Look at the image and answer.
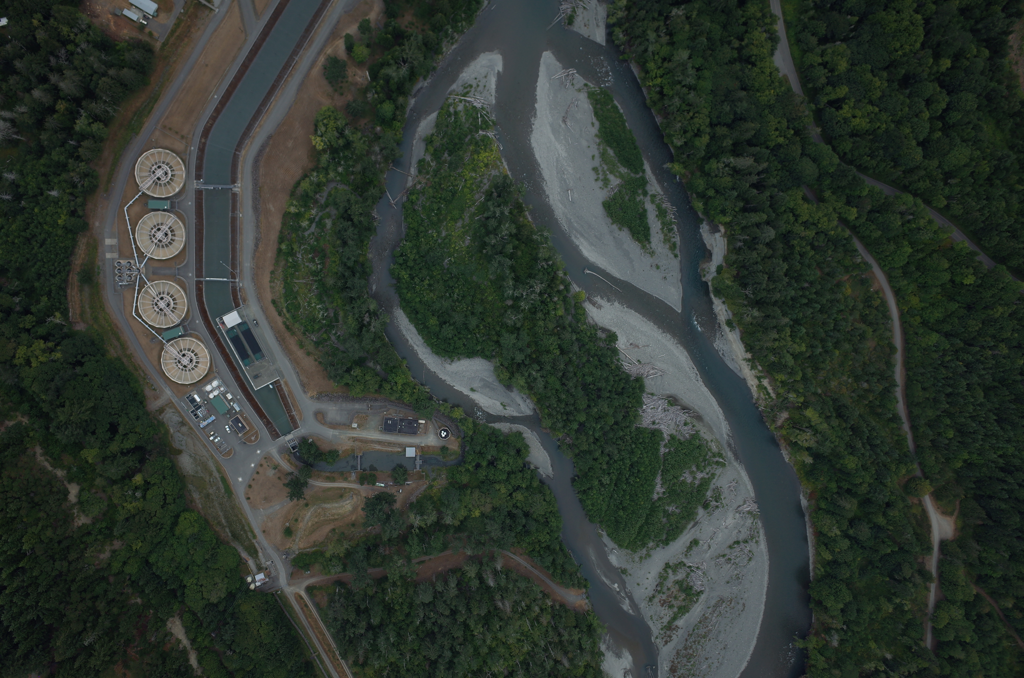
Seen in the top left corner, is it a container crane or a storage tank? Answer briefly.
storage tank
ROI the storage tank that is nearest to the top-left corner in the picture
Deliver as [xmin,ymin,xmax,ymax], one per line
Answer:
[135,148,187,199]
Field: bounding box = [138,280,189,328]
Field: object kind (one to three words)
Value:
storage tank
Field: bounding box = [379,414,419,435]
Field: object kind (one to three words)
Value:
building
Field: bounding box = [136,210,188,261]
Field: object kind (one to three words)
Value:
storage tank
